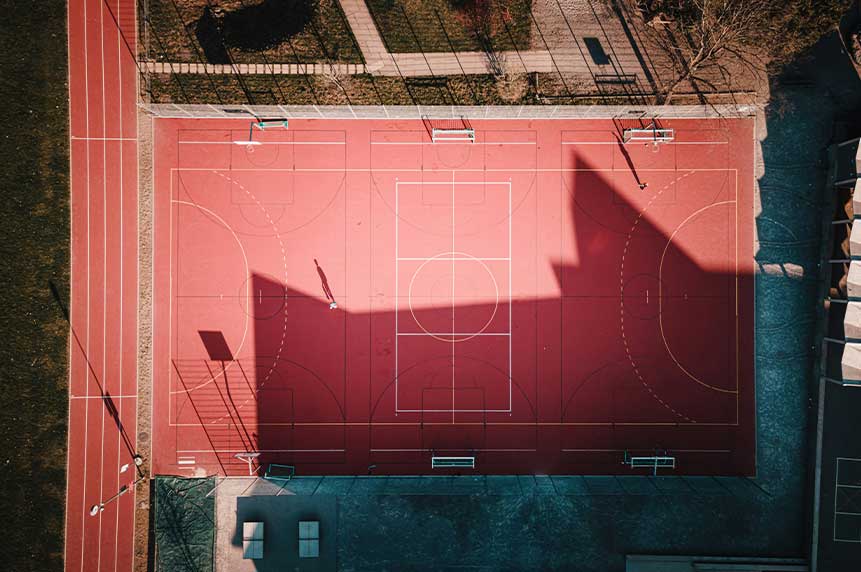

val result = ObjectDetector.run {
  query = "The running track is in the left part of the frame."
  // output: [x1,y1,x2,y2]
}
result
[64,0,140,572]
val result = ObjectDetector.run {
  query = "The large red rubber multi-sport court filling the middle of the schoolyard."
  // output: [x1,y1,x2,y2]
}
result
[151,114,758,479]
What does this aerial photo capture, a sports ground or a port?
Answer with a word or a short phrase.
sports ground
